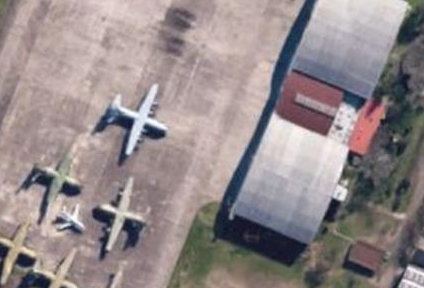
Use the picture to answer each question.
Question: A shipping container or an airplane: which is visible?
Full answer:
The one in the frame is an airplane.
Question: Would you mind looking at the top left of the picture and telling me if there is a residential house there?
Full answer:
No, there's no residential house to be seen at the top left of the picture.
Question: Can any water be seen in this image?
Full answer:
No, there's no water in this view.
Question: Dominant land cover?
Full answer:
The largest share of the image is taken up by paved ground.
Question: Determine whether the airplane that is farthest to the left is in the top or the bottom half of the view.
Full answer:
The airplane that is farthest to the left sits in the bottom half of the picture.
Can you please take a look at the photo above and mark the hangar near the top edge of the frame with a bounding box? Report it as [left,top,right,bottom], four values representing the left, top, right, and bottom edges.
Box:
[293,0,410,100]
